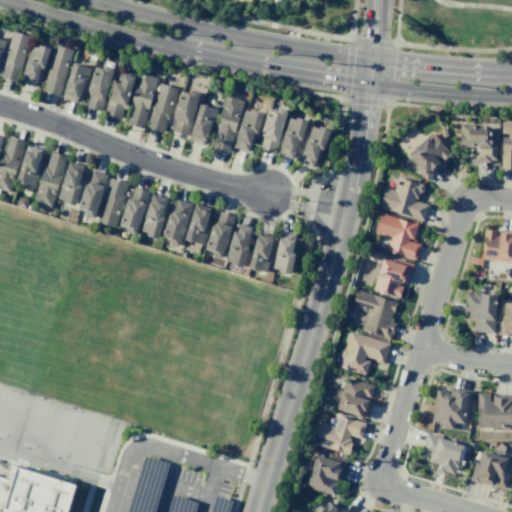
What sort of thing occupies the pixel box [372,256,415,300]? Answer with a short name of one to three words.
house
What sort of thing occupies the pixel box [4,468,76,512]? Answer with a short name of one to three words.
building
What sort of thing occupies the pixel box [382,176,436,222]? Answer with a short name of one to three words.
house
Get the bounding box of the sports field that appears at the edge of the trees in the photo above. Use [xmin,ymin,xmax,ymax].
[0,203,296,461]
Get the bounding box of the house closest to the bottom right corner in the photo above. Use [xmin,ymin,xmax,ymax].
[468,450,512,493]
